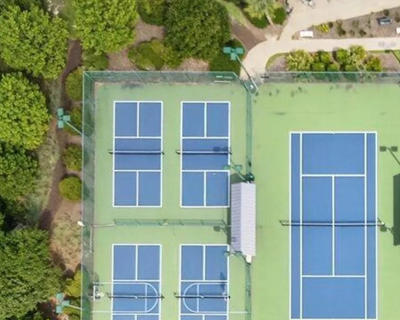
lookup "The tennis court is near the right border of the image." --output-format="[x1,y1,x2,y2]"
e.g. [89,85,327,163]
[249,84,400,320]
